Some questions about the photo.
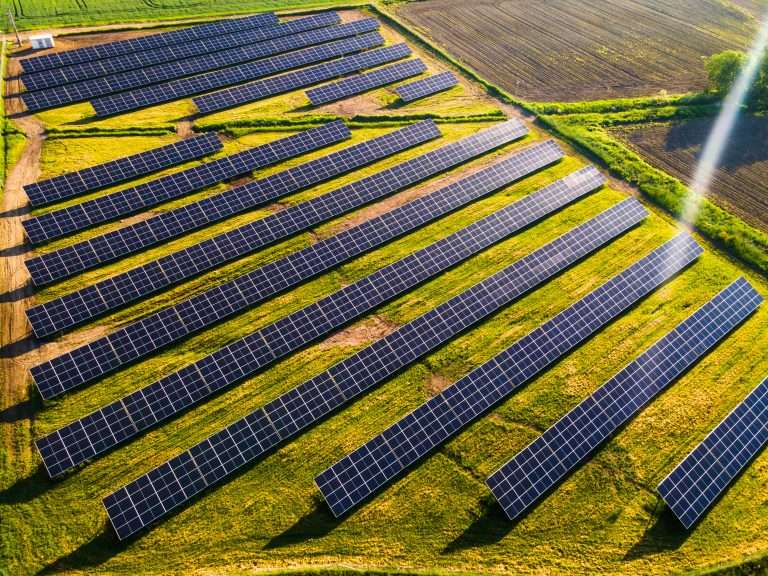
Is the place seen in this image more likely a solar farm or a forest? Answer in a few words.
solar farm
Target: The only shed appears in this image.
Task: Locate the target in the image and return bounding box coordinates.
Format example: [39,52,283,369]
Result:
[28,33,56,49]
